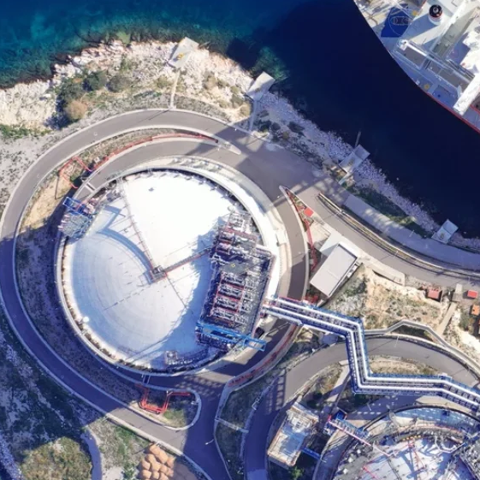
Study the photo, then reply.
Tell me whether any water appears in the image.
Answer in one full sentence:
Yes, there is water in the image.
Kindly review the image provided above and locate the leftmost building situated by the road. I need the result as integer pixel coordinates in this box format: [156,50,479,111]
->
[268,401,321,468]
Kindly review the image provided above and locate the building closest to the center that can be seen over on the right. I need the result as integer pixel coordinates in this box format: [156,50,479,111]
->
[310,231,363,297]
